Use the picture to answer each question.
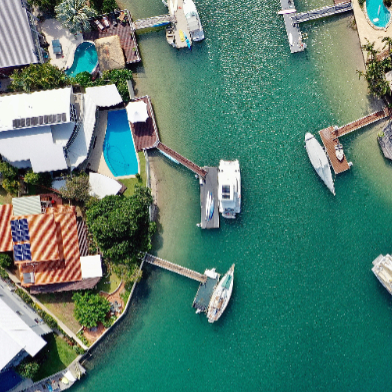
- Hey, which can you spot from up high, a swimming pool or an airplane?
swimming pool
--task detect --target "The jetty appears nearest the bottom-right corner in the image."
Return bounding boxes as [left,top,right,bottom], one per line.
[192,273,221,313]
